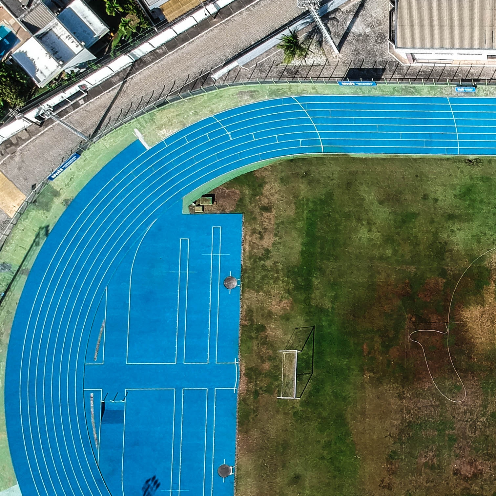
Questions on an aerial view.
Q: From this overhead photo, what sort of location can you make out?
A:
sports ground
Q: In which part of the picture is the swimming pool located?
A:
top left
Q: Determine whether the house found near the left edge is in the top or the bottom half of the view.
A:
top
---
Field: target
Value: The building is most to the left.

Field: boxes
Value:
[2,0,117,97]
